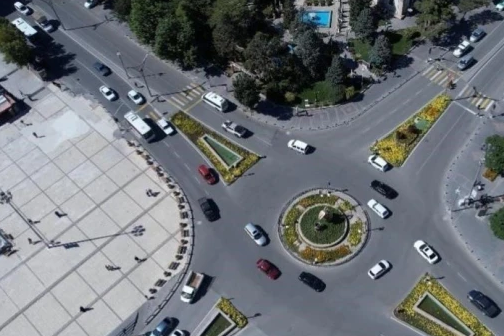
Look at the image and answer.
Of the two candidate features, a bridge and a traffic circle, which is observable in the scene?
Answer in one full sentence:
It is a traffic circle that can be seen here.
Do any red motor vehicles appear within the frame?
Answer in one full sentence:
Yes, a red motor vehicle is visible in the scene.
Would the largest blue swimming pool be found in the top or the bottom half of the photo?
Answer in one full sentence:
The largest blue swimming pool sits in the top half of the picture.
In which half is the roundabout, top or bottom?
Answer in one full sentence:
The bottom half of the photo is where the roundabout is.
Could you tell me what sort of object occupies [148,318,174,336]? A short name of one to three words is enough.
car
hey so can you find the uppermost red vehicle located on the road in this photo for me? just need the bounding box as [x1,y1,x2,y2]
[196,163,218,184]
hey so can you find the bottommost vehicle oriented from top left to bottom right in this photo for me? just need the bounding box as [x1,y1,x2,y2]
[467,288,500,316]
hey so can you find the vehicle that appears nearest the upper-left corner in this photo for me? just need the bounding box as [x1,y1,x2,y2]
[12,1,31,16]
